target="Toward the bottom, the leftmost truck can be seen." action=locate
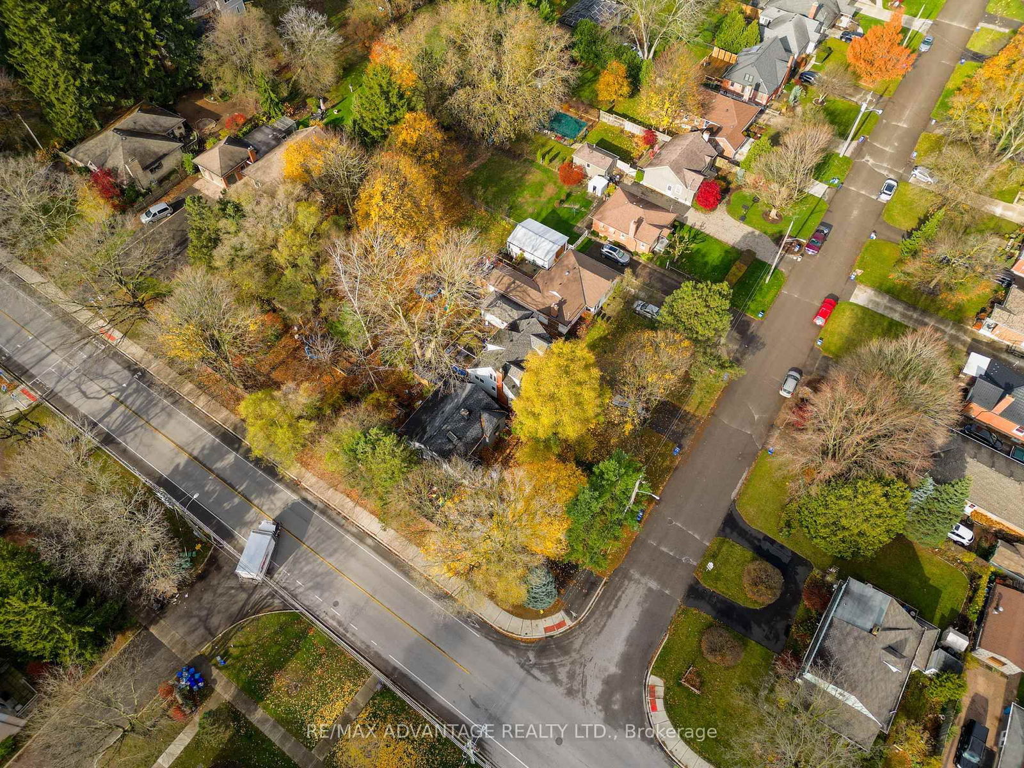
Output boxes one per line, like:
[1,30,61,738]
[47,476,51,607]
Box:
[230,519,286,592]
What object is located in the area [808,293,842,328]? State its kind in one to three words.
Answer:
truck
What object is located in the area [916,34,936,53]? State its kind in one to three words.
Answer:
car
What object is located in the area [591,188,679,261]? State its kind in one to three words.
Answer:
house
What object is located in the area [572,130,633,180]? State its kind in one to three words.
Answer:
building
